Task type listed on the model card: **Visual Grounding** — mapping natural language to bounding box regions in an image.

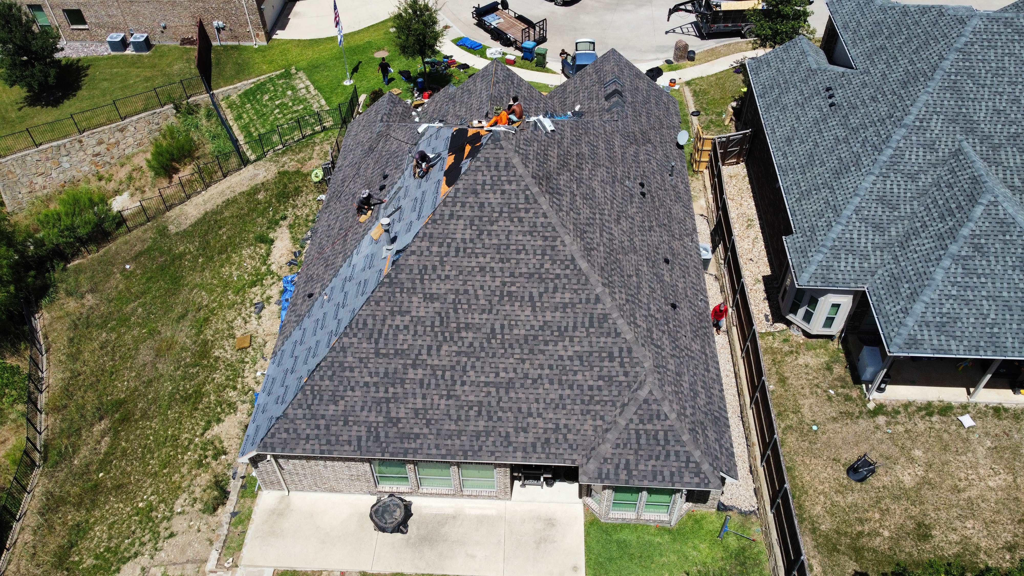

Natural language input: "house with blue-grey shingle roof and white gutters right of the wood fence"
[745,0,1024,410]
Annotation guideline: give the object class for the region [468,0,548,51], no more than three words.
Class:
trailer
